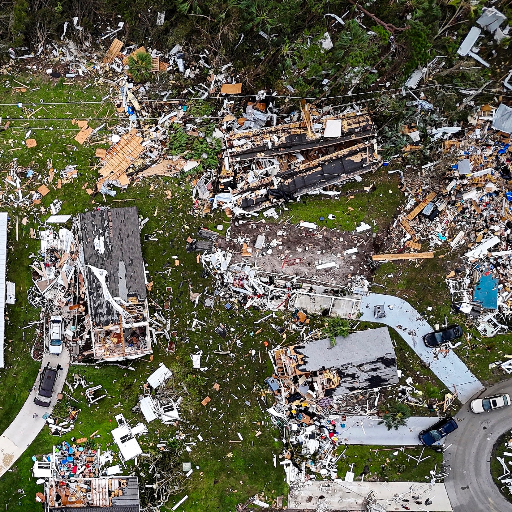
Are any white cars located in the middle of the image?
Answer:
No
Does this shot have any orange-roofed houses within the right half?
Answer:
No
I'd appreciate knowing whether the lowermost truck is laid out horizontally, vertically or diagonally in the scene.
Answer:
diagonally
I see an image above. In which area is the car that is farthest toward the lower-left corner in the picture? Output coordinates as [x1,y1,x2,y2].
[34,365,60,405]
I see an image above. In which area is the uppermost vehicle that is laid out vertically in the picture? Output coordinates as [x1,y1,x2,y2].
[48,315,64,353]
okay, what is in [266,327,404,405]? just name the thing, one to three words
house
